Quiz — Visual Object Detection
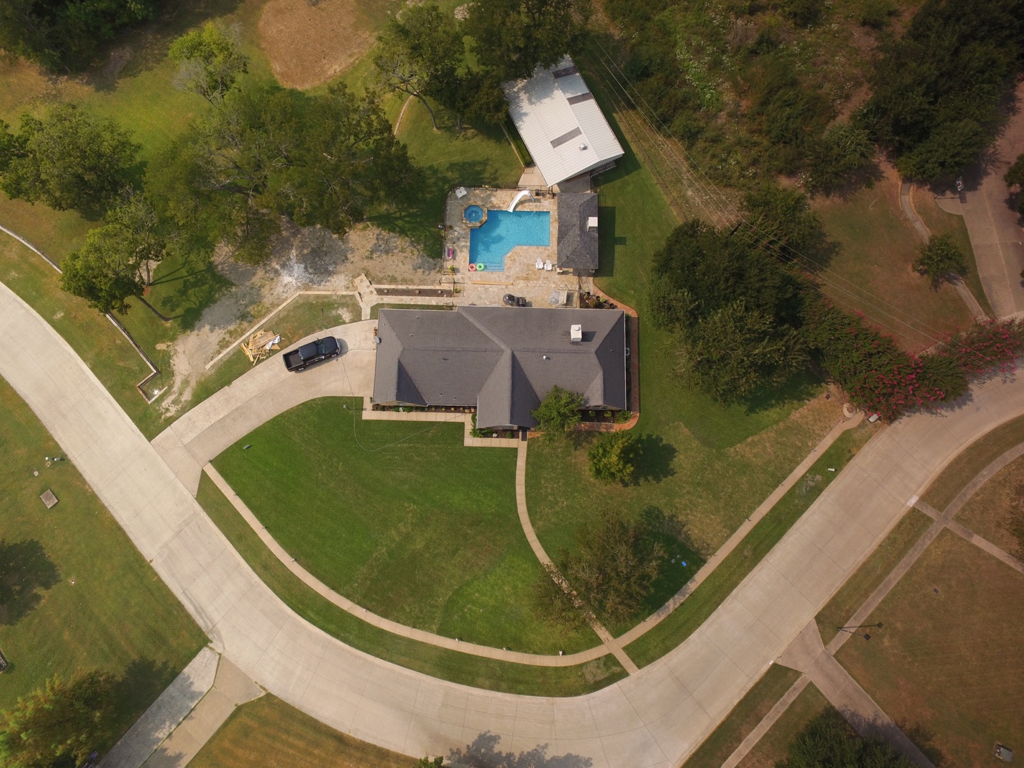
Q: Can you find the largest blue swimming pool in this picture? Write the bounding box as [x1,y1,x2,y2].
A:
[466,207,553,274]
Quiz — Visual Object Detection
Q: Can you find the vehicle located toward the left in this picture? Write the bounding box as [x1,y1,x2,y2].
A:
[282,340,340,372]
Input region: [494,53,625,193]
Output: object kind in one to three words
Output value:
building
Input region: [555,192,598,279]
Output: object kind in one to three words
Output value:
building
